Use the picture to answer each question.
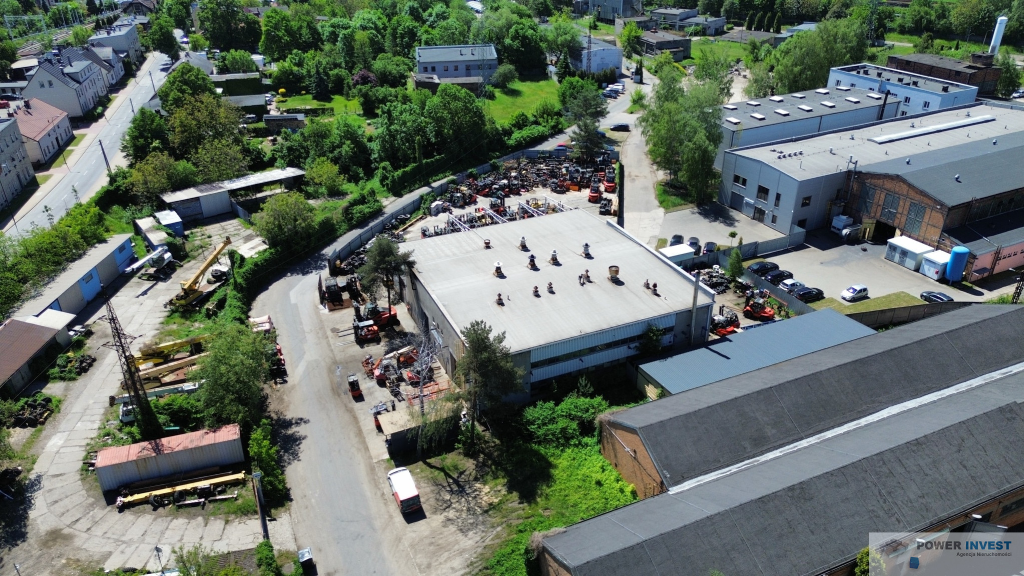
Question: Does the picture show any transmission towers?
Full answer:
Yes, the picture does show a transmission tower.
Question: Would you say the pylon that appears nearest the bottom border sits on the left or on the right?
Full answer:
The pylon that appears nearest the bottom border sits on the left side.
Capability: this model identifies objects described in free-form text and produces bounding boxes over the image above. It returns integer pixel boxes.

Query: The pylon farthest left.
[75,285,164,446]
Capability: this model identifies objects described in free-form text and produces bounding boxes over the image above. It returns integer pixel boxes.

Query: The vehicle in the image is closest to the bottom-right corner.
[917,288,959,303]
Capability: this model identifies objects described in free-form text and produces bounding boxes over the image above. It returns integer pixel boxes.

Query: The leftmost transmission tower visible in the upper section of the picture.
[466,0,497,105]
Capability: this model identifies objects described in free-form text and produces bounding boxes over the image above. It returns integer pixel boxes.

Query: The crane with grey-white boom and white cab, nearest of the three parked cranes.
[111,381,211,439]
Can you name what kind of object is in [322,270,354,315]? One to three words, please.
work vehicle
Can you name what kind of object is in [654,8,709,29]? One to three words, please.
shed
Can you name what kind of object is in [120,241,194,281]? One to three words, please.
crane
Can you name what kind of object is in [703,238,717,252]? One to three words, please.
car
